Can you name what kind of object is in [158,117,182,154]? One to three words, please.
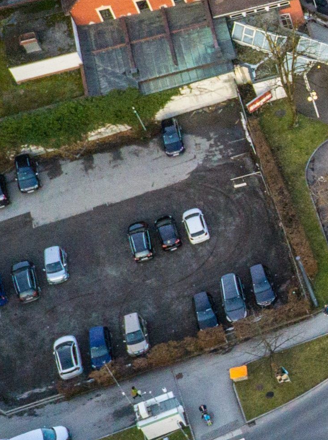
car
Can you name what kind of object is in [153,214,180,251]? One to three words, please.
car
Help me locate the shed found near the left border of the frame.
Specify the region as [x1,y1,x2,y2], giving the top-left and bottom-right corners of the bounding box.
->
[0,0,85,79]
